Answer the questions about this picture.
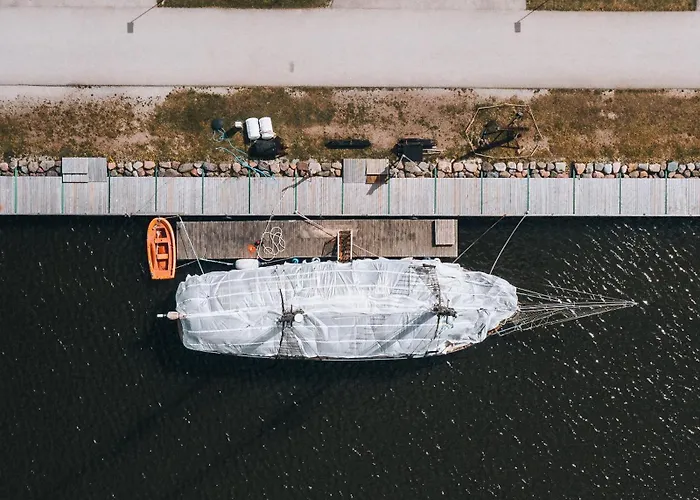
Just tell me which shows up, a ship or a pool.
ship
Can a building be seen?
No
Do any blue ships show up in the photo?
No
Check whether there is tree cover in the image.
No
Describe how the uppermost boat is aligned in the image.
vertically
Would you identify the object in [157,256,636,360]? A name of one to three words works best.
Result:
ship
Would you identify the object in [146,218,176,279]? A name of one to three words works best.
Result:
boat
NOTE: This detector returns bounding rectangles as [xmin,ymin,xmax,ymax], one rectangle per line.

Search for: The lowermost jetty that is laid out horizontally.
[176,220,457,259]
